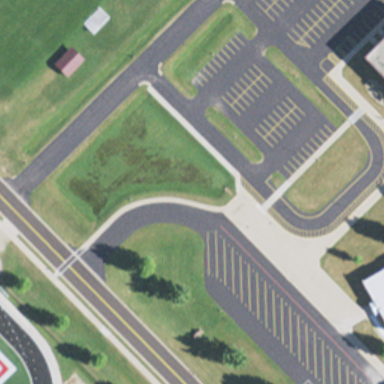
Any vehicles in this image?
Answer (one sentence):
No, there's no vehicle here.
